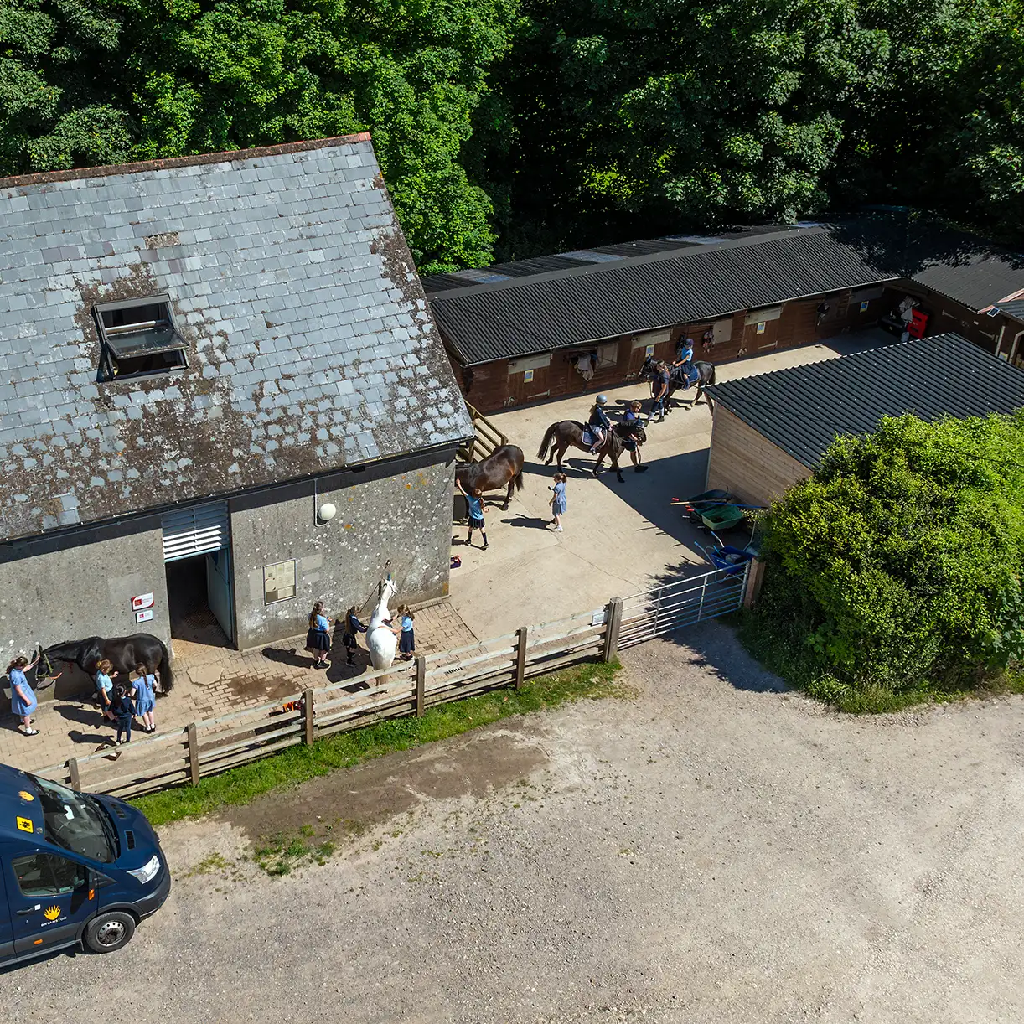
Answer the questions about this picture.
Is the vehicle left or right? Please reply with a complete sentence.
The vehicle is on the left side of the image.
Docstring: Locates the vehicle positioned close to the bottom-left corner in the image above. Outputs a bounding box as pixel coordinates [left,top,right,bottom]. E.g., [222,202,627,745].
[0,759,174,963]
